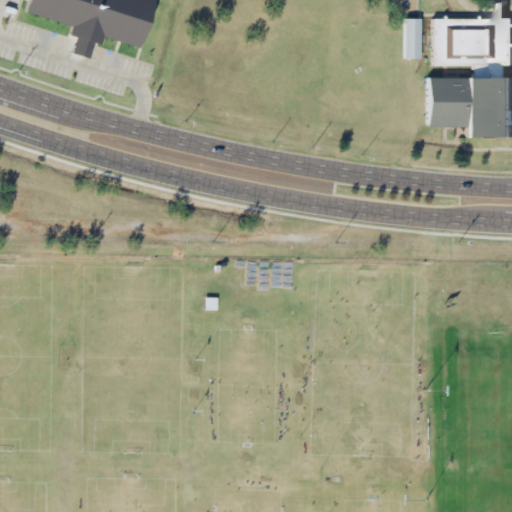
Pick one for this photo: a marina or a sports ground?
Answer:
sports ground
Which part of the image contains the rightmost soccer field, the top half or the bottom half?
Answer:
bottom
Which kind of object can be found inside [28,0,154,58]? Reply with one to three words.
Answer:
building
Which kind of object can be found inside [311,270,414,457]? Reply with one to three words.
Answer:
soccer field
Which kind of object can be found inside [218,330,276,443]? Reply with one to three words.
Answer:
soccer field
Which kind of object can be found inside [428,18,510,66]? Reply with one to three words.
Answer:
building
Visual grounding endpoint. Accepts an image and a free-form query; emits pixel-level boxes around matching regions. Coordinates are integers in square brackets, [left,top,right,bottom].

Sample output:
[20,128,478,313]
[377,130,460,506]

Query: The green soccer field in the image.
[449,334,512,512]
